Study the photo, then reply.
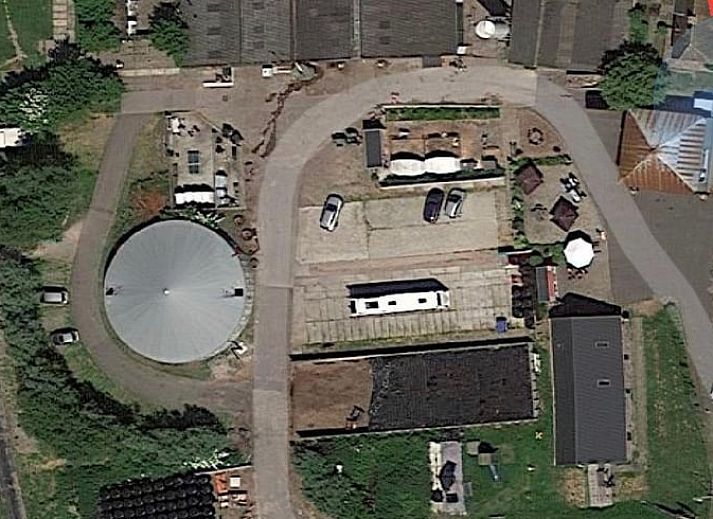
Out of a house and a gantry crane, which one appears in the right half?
house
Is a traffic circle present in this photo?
No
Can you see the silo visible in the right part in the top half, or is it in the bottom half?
top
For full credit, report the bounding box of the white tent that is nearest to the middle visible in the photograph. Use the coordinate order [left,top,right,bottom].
[391,160,430,174]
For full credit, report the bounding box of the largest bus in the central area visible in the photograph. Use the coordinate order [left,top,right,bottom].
[352,289,450,320]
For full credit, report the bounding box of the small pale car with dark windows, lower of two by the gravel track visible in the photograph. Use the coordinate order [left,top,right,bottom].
[51,329,80,347]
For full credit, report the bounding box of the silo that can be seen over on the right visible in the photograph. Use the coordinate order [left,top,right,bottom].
[476,19,511,39]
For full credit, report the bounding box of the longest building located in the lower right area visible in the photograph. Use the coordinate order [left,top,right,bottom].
[549,316,632,467]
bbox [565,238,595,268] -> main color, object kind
white umbrella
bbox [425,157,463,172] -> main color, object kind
white tent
